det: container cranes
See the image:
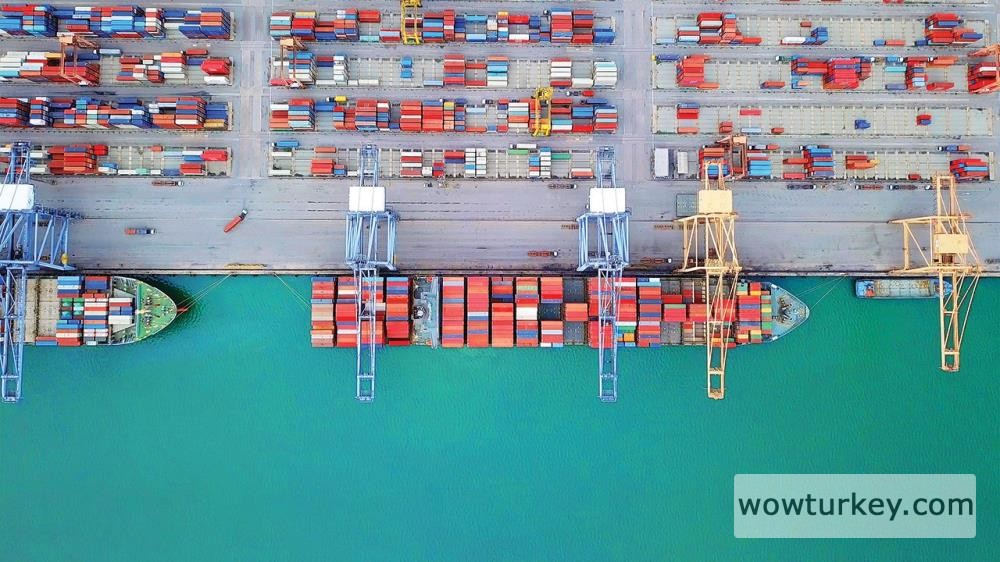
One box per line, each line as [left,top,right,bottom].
[280,37,308,89]
[966,40,1000,93]
[402,0,426,45]
[531,87,553,138]
[570,147,636,403]
[341,143,403,402]
[667,161,745,401]
[62,35,100,87]
[0,141,86,401]
[717,134,746,182]
[880,176,985,374]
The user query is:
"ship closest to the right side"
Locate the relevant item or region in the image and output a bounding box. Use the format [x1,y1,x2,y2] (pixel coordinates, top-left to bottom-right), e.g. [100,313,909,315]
[855,279,953,298]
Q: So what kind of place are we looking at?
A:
port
